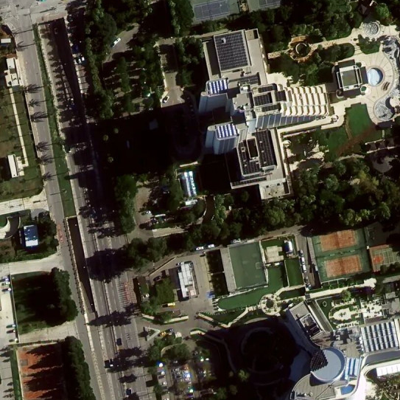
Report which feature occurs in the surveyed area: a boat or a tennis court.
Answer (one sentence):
It is a tennis court that can be seen here.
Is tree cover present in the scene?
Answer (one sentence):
Yes, there's tree cover in this view.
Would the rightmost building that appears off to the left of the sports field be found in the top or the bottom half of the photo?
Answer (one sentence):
The rightmost building that appears off to the left of the sports field sits in the bottom half of the picture.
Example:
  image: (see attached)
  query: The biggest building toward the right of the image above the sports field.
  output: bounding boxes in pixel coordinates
[197,28,334,203]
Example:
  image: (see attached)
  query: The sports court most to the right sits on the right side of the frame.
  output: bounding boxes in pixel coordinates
[369,242,400,273]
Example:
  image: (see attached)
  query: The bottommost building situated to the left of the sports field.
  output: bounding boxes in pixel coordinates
[178,262,197,300]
